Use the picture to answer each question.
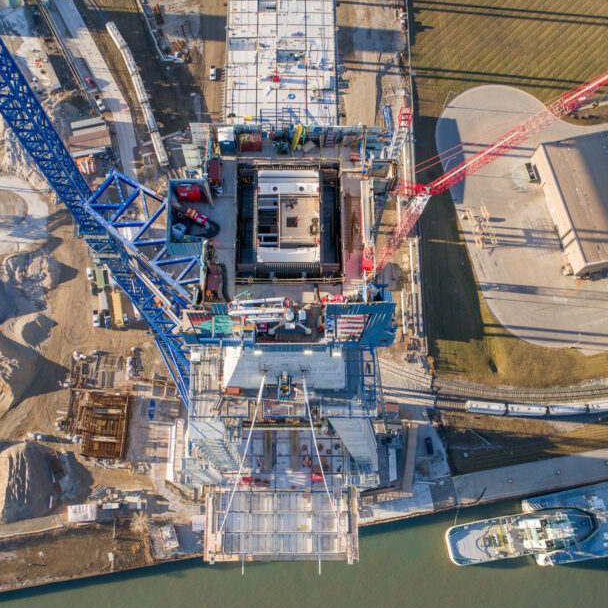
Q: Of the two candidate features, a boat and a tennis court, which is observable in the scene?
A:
boat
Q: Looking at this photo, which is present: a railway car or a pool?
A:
railway car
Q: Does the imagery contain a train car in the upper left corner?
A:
Yes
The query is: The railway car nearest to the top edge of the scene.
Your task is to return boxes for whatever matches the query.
[105,23,128,52]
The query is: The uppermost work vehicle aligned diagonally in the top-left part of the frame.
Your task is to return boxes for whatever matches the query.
[152,39,170,54]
